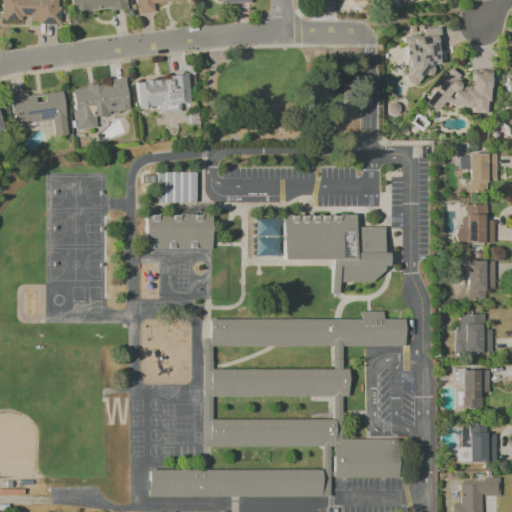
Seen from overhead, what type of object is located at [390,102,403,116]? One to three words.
gazebo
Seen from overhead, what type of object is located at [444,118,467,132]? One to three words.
swimming pool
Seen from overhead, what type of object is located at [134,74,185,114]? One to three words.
house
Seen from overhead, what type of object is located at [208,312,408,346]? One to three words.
building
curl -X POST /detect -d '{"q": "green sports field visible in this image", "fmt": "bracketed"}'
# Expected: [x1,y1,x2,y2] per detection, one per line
[0,159,129,480]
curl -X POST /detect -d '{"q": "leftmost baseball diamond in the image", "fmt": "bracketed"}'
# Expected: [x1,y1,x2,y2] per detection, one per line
[0,408,42,480]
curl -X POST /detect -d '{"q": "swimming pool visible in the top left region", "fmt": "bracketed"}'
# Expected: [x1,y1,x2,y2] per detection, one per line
[27,130,46,148]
